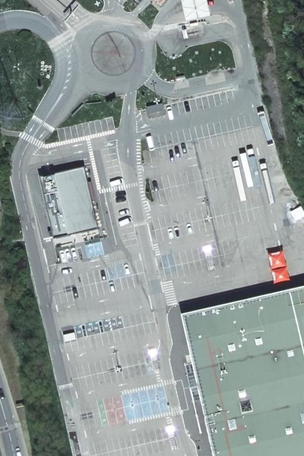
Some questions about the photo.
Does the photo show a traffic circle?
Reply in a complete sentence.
Yes, the photo shows a traffic circle.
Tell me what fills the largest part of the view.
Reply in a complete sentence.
The largest share of the image is taken up by paved ground.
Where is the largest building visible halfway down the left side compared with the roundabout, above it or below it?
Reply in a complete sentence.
Relative to the roundabout, the largest building visible halfway down the left side lies below it.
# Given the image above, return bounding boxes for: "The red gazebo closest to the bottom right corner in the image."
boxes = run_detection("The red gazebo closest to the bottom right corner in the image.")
[272,266,290,283]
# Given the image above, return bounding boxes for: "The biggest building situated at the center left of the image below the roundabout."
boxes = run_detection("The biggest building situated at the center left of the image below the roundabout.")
[41,167,97,237]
